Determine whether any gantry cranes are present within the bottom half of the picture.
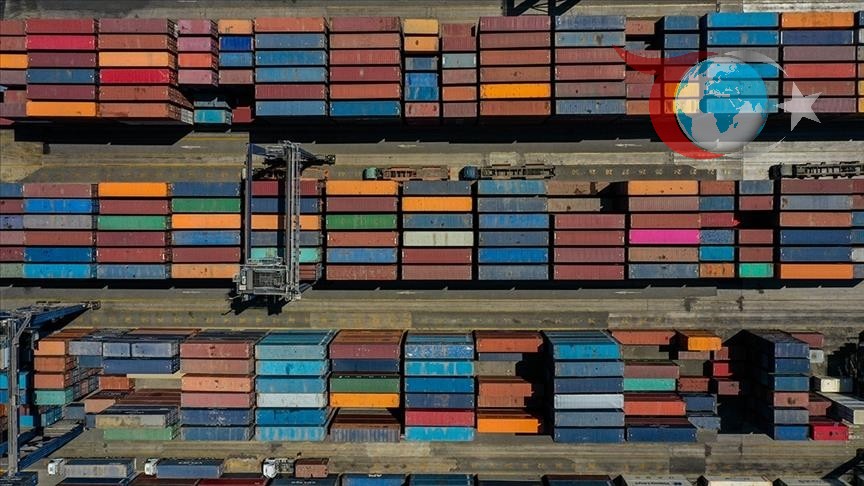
Yes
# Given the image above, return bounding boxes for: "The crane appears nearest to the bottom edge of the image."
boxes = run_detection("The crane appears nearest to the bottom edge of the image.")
[0,300,111,483]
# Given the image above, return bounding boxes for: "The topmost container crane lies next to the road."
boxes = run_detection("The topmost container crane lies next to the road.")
[232,141,330,308]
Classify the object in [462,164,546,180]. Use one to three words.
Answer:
vehicle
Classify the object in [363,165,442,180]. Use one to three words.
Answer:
vehicle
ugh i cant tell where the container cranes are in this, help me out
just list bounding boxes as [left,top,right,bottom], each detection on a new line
[0,300,111,483]
[232,141,330,308]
